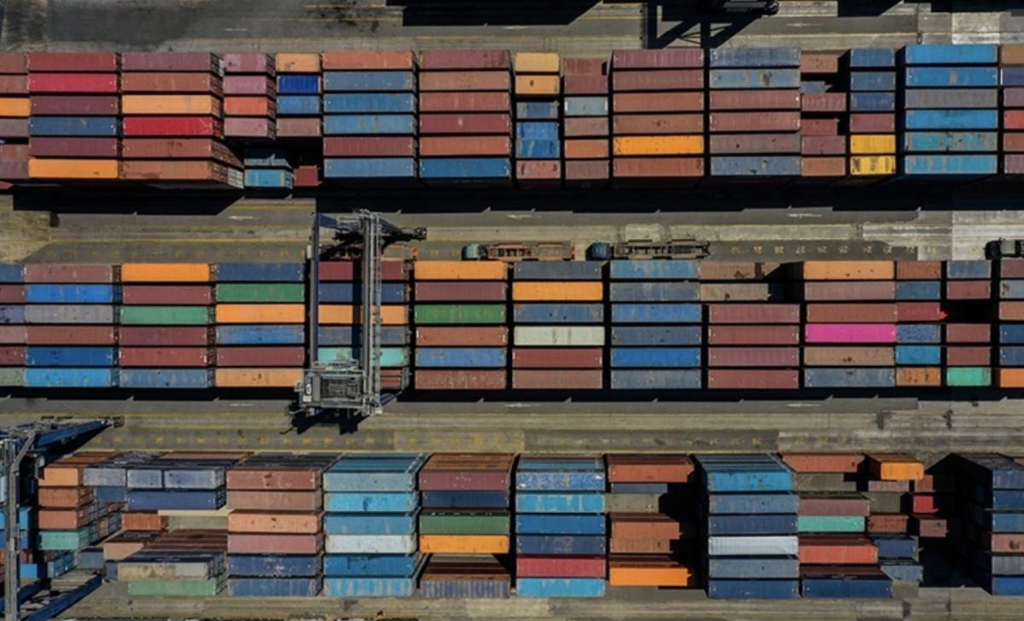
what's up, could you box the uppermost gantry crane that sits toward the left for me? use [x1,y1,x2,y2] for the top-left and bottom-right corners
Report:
[281,206,429,421]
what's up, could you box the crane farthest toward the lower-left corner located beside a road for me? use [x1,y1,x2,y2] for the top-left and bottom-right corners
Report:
[0,415,130,621]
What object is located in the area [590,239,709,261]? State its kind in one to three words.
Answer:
truck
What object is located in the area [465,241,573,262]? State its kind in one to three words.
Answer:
truck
